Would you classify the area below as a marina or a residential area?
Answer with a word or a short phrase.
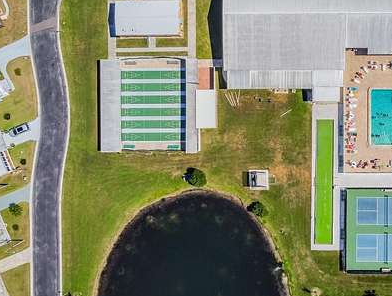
residential area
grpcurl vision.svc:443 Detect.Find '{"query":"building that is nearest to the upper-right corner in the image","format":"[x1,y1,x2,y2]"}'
[222,0,392,103]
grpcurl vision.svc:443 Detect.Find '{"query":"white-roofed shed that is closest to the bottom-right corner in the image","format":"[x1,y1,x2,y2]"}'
[250,171,271,190]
